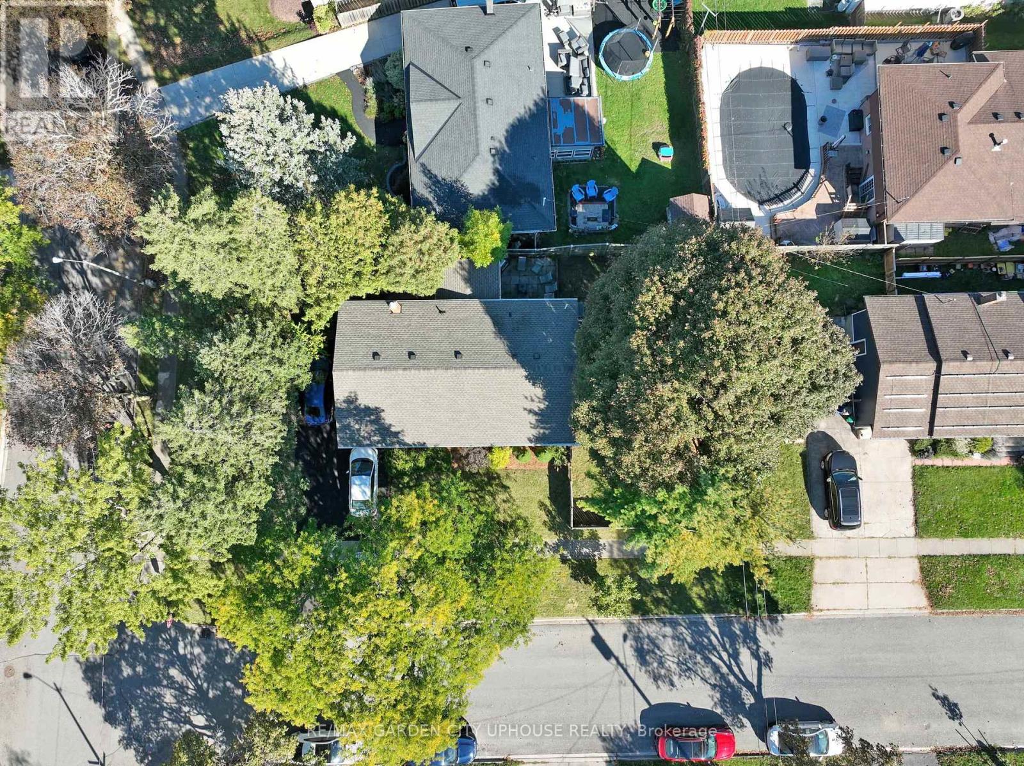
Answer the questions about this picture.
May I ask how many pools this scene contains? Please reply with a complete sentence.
My tally gives 1 pool in this photo.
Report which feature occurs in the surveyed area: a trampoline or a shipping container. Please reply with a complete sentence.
I can see a trampoline in this picture.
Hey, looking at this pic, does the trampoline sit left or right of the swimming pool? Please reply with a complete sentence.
The swimming pool has the trampoline on its left side.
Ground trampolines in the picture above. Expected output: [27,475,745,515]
[596,15,658,88]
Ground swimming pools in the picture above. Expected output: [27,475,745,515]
[711,60,819,211]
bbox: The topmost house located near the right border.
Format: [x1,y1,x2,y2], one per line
[859,49,1024,228]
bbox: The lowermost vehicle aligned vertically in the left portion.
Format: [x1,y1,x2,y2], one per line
[346,448,381,521]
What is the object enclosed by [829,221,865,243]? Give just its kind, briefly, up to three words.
greenhouse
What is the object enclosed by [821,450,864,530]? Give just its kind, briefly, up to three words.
car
